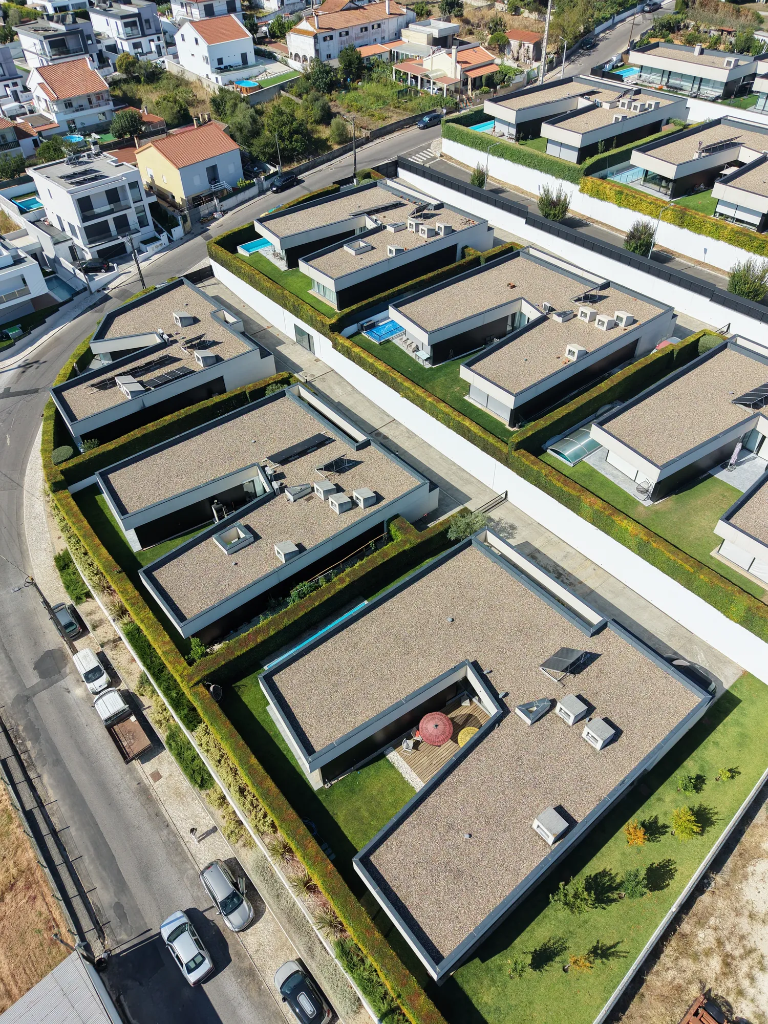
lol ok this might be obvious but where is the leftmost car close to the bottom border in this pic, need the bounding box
[159,907,217,991]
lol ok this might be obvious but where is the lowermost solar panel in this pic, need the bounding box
[543,645,586,680]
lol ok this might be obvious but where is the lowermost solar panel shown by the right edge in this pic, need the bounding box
[734,383,768,412]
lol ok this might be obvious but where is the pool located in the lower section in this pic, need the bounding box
[264,603,374,673]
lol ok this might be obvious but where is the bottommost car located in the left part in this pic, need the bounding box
[275,957,339,1024]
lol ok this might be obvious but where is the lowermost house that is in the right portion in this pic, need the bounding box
[260,534,722,987]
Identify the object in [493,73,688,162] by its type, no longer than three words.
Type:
house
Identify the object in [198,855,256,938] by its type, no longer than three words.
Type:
car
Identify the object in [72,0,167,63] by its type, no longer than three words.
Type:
house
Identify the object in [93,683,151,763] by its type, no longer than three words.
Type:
truck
